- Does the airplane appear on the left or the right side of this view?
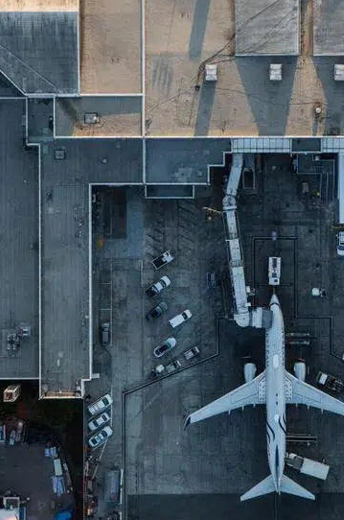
right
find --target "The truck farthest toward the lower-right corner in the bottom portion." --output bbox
[284,454,329,484]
